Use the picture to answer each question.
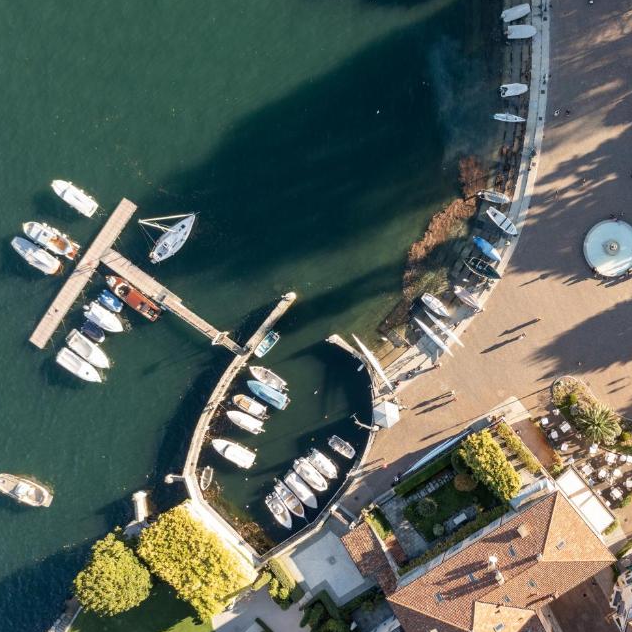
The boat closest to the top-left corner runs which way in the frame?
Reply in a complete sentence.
The boat closest to the top-left corner runs diagonally in the image.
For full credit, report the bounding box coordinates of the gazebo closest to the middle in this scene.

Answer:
[374,399,401,427]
